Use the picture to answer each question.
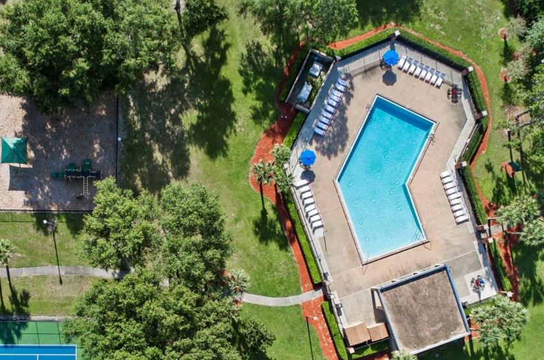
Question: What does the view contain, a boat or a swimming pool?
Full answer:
I can see a swimming pool in this picture.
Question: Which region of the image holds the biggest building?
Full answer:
You can find the biggest building in the bottom right area of the picture.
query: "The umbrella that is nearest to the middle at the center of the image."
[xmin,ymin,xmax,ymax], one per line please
[300,149,316,166]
